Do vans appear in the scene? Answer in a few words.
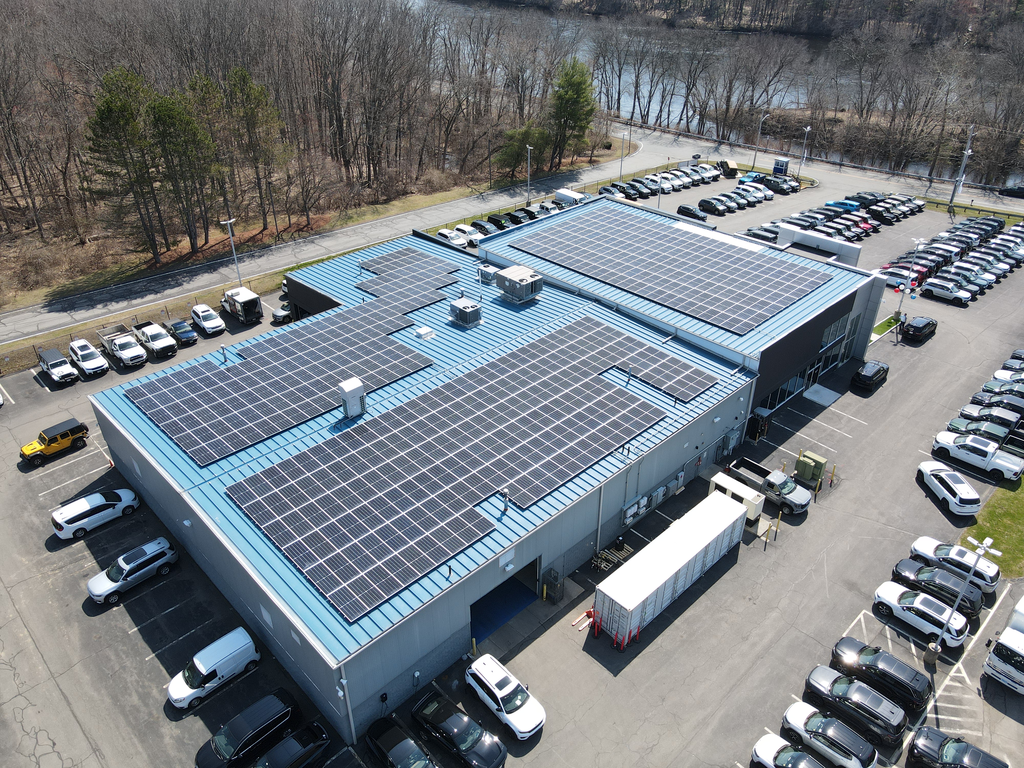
Yes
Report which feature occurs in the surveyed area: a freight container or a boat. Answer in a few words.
freight container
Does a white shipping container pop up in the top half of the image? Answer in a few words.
No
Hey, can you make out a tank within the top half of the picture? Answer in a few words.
No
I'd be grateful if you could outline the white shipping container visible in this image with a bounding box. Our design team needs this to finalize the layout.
[594,490,748,645]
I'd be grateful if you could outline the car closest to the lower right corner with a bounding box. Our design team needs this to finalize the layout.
[910,723,1020,768]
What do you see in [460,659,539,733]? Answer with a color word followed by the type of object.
white car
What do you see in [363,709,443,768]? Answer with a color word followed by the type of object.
black car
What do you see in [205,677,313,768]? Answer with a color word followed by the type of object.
black car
